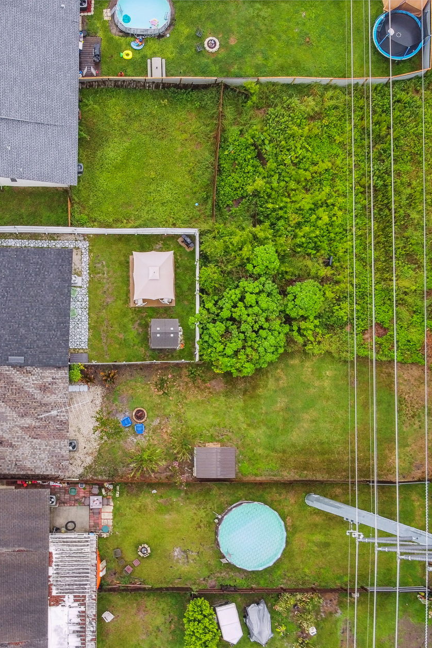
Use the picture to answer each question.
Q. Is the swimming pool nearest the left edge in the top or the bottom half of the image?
top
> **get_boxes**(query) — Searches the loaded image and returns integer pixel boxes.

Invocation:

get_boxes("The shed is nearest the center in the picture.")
[152,319,178,350]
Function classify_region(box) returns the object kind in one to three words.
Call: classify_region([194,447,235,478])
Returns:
shed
